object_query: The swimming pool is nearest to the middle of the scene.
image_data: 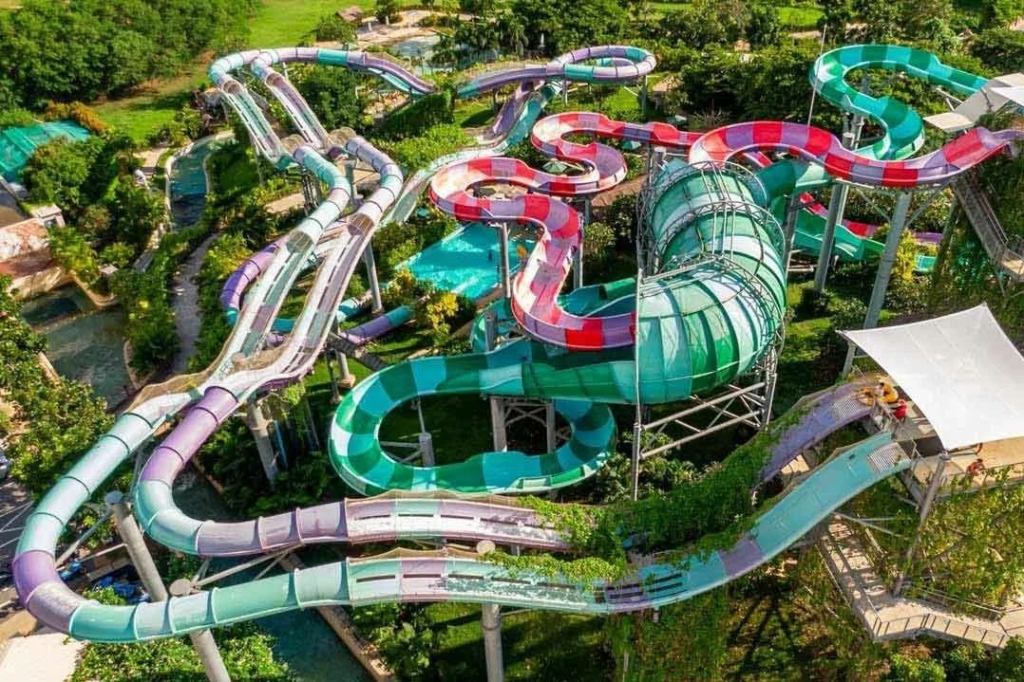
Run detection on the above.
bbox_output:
[391,225,536,302]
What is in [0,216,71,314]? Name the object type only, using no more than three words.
house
